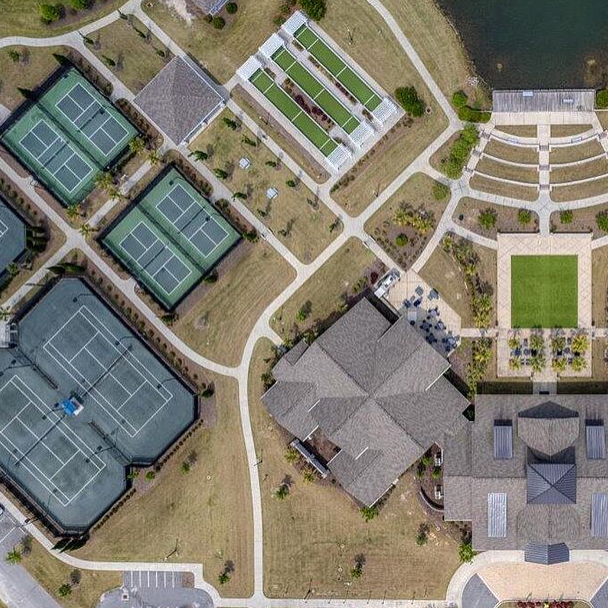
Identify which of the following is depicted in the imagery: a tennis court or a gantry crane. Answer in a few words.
tennis court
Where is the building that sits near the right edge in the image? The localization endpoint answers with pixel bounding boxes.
[423,394,608,565]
